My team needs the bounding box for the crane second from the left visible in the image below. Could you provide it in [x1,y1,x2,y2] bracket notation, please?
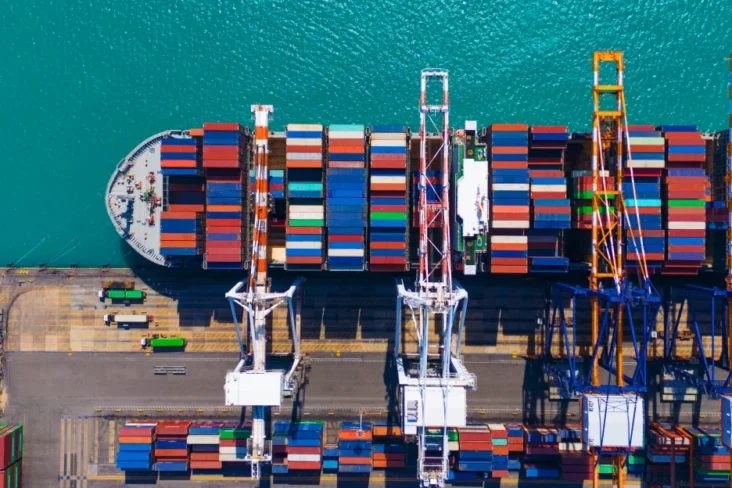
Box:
[380,69,482,484]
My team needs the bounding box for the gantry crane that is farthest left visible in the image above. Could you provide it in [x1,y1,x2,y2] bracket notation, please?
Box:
[224,104,320,474]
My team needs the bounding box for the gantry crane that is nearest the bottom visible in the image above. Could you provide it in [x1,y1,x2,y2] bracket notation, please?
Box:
[659,433,701,488]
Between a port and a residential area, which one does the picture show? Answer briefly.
port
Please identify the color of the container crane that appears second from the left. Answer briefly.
white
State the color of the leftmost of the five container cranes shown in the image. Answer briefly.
white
